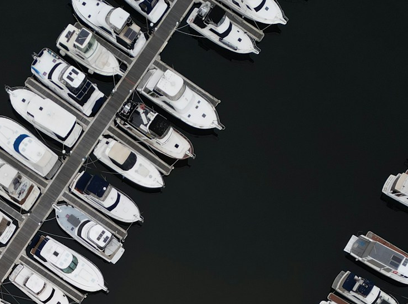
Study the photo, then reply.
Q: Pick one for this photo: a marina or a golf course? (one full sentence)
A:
This looks like a marina.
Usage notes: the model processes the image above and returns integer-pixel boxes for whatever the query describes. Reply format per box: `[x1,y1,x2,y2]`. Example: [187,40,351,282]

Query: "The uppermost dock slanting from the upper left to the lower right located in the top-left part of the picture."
[71,21,133,67]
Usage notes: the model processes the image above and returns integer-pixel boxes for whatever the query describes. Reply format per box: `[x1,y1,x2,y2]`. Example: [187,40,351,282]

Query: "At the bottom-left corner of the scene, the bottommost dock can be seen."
[19,253,86,303]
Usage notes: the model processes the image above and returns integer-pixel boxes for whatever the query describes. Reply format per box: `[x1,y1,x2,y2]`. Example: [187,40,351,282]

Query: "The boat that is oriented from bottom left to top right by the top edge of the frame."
[190,5,209,24]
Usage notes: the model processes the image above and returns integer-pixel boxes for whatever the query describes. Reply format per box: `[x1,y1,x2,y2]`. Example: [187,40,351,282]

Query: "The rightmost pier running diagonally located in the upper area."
[197,0,262,41]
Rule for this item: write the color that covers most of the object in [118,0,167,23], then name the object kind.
white boat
